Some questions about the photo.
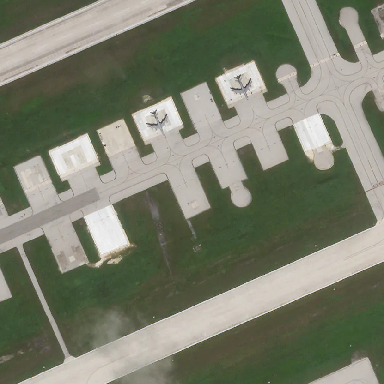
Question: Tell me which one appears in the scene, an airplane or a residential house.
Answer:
airplane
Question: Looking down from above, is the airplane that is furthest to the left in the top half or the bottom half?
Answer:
top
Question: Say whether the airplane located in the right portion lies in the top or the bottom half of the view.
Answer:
top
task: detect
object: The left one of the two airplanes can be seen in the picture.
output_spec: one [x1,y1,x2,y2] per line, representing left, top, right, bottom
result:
[148,112,169,135]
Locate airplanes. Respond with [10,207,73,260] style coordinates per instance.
[232,77,253,100]
[148,112,169,135]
